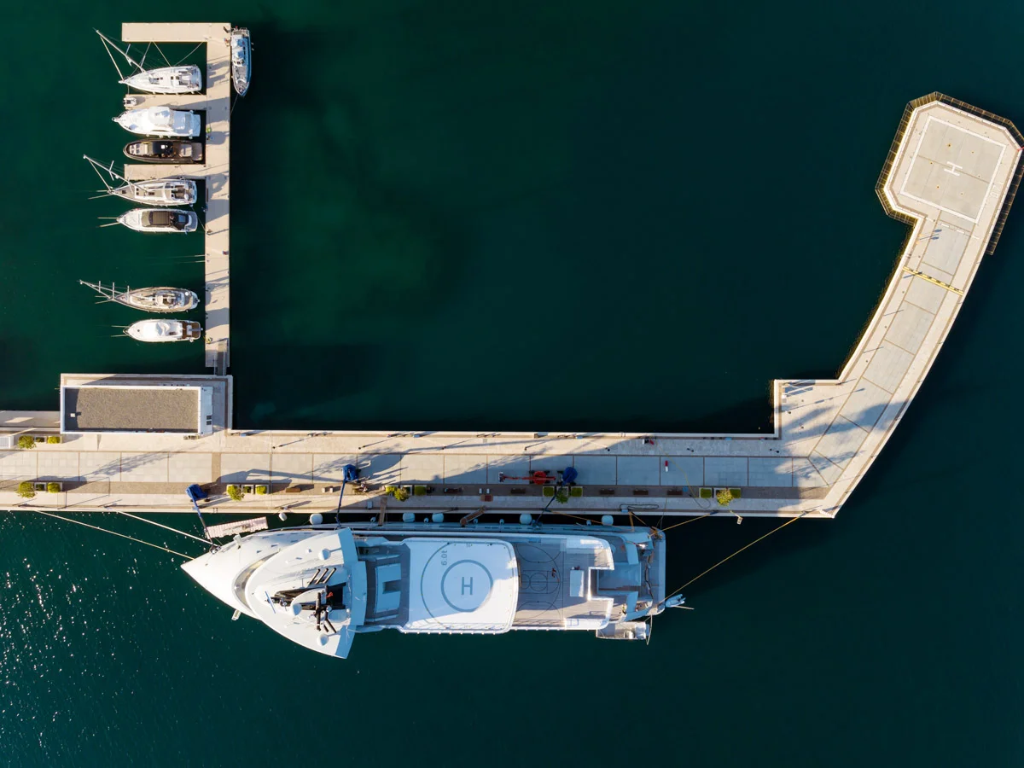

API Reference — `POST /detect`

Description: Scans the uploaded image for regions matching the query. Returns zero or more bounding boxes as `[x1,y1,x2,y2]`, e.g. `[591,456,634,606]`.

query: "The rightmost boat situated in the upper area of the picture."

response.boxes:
[231,26,256,97]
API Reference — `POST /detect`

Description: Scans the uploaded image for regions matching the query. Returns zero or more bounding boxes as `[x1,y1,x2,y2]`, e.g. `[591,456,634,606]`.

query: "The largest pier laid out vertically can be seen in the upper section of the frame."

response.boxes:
[122,23,232,367]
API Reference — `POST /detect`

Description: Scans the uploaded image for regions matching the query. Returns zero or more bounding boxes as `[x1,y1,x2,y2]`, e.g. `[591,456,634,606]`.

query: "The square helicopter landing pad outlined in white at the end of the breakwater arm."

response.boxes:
[875,91,1024,255]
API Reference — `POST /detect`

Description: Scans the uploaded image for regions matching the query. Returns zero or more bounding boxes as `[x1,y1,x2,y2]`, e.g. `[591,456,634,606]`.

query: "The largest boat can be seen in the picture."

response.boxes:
[181,521,665,658]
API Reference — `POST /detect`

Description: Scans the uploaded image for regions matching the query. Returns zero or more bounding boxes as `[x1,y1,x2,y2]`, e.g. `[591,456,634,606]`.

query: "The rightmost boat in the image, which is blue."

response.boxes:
[666,593,685,606]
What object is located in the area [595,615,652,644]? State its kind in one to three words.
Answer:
boat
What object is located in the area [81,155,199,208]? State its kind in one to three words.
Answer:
boat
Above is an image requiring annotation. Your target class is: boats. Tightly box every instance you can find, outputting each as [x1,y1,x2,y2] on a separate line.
[93,29,205,95]
[595,615,652,644]
[666,593,685,606]
[76,280,201,315]
[122,139,205,163]
[110,107,201,140]
[231,26,256,97]
[104,208,201,235]
[114,318,204,344]
[181,521,665,658]
[81,155,199,208]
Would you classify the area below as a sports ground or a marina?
marina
